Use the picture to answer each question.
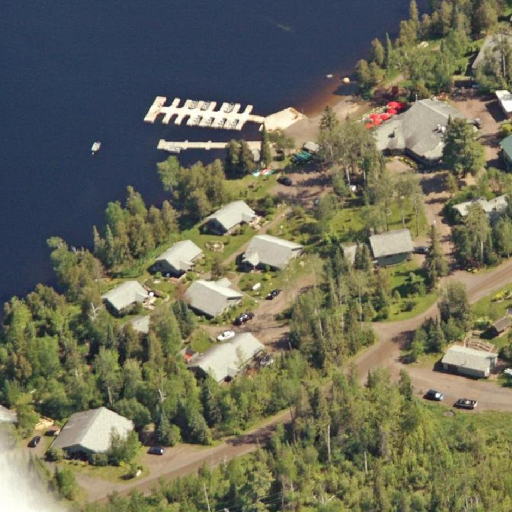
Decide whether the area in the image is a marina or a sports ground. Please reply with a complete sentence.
This image shows a marina.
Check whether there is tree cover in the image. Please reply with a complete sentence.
Yes, there is tree cover in the image.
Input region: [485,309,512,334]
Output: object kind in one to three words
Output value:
shed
